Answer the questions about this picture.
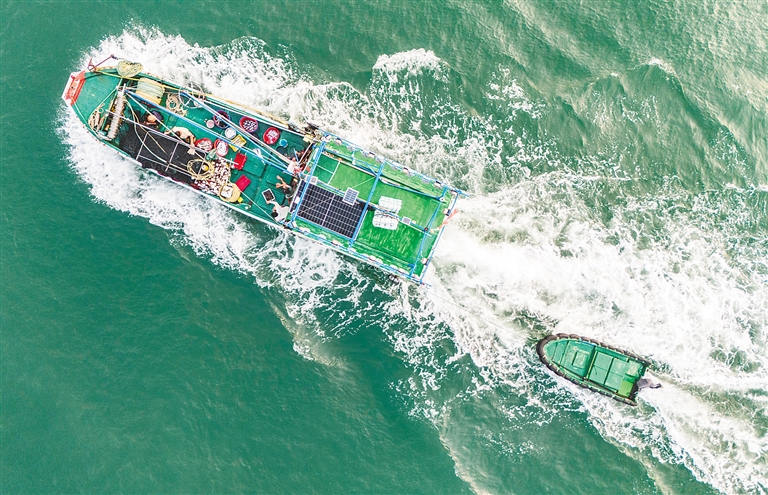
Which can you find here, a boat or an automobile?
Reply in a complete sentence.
Of the two, only a boat appears.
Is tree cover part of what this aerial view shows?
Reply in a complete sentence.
No, the scene doesn't show any tree cover.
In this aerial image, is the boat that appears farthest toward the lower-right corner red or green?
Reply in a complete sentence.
From above, the boat that appears farthest toward the lower-right corner appears green.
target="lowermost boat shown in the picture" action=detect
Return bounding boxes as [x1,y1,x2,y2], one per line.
[537,332,662,404]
